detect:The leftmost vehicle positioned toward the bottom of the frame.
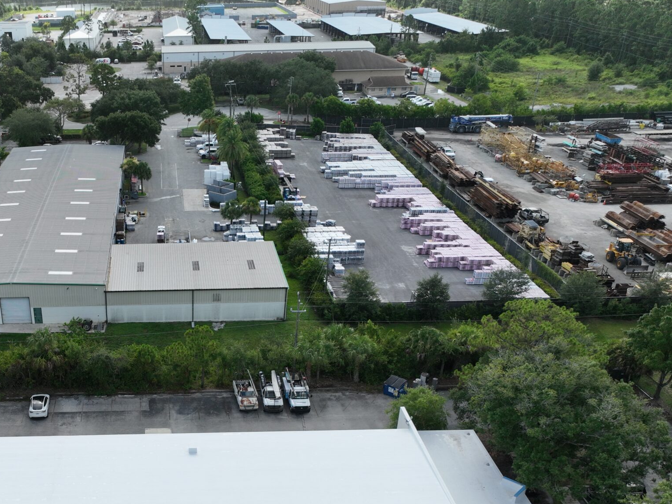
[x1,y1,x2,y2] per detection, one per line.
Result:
[26,394,48,419]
